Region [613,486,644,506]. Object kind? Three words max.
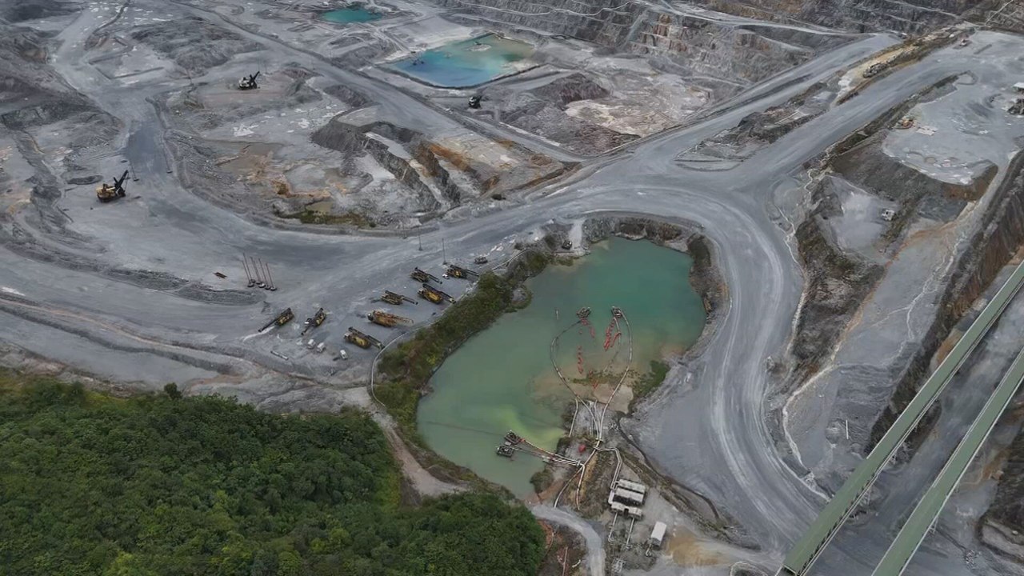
shed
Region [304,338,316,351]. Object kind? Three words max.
vehicle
